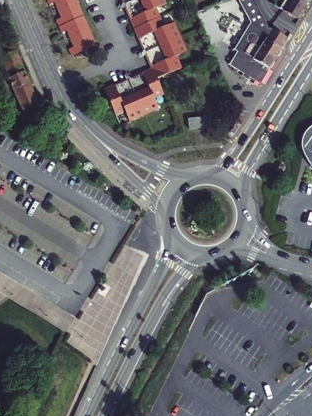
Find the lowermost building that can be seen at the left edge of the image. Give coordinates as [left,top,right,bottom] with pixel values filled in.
[10,72,34,109]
